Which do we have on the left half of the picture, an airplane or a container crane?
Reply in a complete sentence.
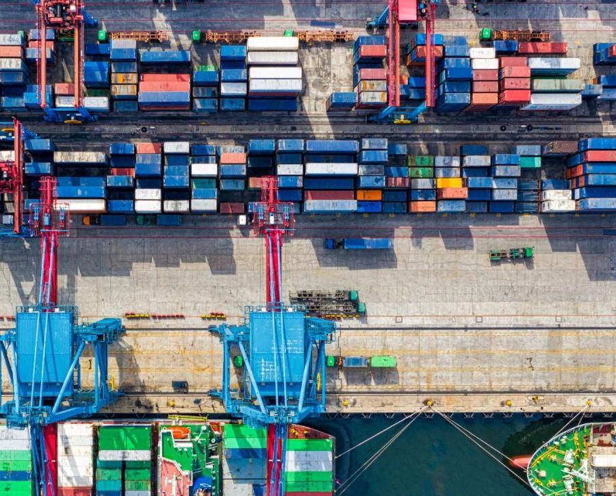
There is a container crane on the left half of the picture.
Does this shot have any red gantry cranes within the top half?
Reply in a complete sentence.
Yes, I can see a red gantry crane within the top half.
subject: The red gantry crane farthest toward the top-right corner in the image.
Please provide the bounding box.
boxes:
[363,0,442,127]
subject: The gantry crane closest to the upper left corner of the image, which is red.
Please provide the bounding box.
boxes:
[35,0,98,127]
